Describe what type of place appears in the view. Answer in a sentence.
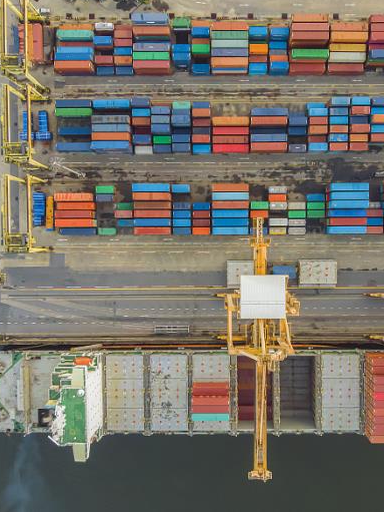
This image shows a port.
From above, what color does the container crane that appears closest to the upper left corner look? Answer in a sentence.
The container crane that appears closest to the upper left corner is yellow.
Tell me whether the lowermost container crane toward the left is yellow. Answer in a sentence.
Yes, the lowermost container crane toward the left is indeed yellow.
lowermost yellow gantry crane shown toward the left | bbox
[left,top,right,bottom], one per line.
[0,170,57,255]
